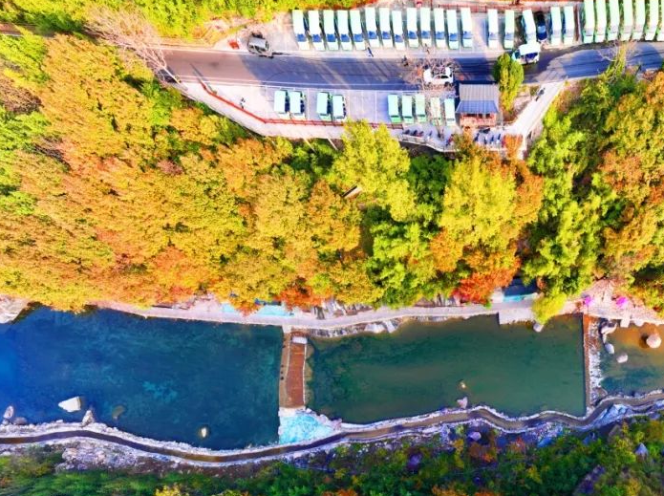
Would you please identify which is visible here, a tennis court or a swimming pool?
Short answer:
swimming pool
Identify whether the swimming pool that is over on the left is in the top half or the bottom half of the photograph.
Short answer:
bottom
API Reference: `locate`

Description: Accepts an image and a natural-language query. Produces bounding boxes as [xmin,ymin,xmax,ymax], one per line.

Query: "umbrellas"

[582,295,592,305]
[616,296,628,307]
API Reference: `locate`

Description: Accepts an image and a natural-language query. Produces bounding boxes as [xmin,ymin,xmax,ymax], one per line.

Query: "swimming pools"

[596,325,664,400]
[0,307,280,451]
[304,314,583,426]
